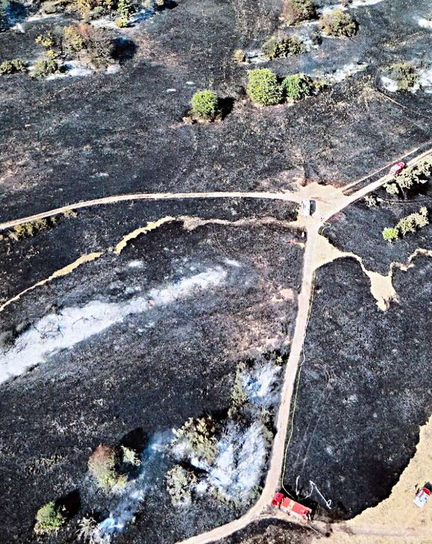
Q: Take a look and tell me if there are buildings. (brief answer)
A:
No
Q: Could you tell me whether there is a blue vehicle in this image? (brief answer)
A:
No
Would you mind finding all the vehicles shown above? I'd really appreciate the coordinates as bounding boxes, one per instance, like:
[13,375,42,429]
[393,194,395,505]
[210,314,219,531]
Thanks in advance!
[304,199,310,215]
[391,163,405,171]
[272,493,312,523]
[413,483,432,506]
